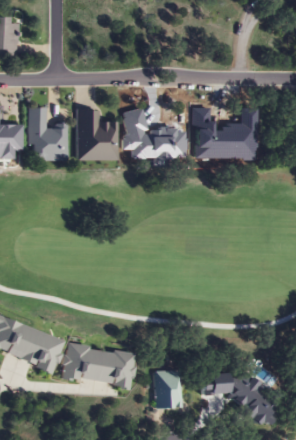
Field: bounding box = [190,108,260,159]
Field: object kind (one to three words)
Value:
house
